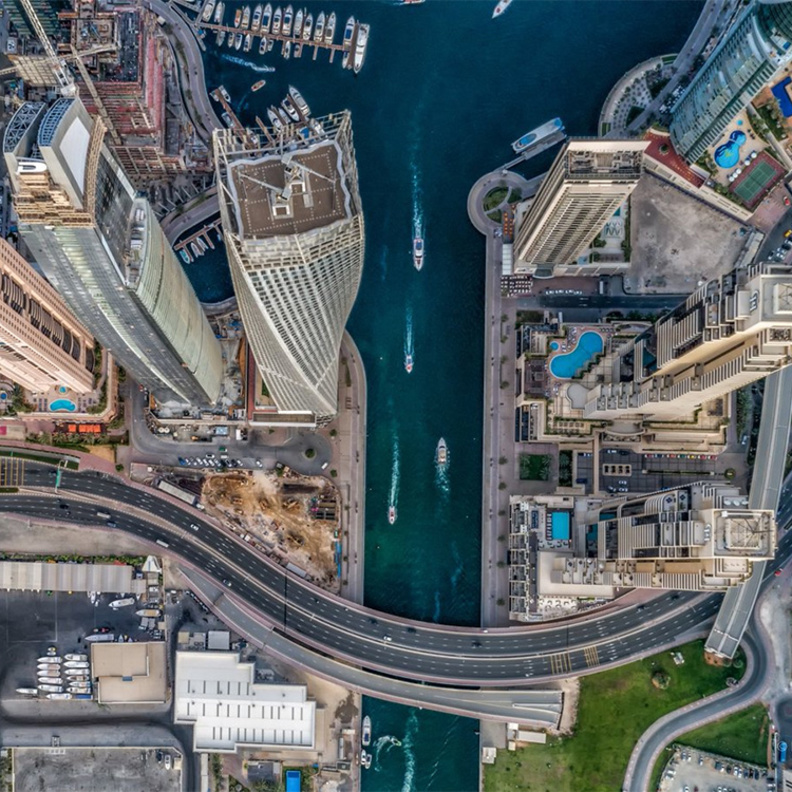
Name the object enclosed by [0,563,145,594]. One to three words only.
shed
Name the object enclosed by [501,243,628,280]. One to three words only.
building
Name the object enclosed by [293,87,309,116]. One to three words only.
boat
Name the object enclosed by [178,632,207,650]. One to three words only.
building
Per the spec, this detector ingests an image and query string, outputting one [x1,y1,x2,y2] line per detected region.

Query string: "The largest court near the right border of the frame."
[729,150,787,212]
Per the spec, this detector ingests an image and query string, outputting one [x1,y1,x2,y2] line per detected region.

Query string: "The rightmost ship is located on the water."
[507,118,565,151]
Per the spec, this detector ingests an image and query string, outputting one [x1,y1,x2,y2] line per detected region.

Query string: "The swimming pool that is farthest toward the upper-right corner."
[770,73,792,118]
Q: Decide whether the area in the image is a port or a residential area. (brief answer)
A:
port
